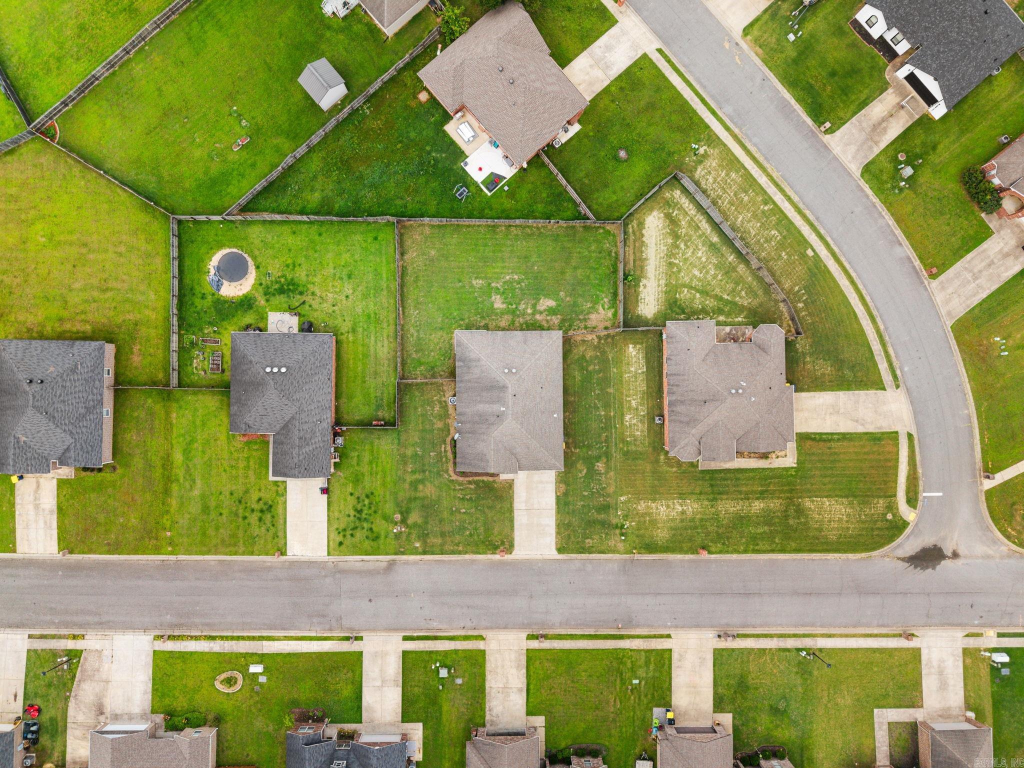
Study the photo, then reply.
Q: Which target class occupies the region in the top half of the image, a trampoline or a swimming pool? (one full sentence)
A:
Visible in the top half of the image is a trampoline.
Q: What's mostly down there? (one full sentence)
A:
Most of the picture is covered by grass.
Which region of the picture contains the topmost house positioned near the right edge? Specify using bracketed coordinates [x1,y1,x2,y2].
[857,0,1024,116]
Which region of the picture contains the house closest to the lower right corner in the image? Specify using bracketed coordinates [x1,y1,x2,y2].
[918,720,993,768]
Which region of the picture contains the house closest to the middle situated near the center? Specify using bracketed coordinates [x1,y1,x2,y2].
[454,330,564,474]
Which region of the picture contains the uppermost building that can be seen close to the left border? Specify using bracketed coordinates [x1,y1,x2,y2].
[0,339,115,474]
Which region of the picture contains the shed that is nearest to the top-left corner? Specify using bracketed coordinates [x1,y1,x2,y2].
[297,57,347,109]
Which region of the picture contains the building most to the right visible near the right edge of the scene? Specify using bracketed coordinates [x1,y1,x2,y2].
[982,135,1024,224]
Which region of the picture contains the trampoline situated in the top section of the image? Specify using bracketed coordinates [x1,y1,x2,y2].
[217,250,250,281]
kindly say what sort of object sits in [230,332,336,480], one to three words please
house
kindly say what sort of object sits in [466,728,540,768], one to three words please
house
